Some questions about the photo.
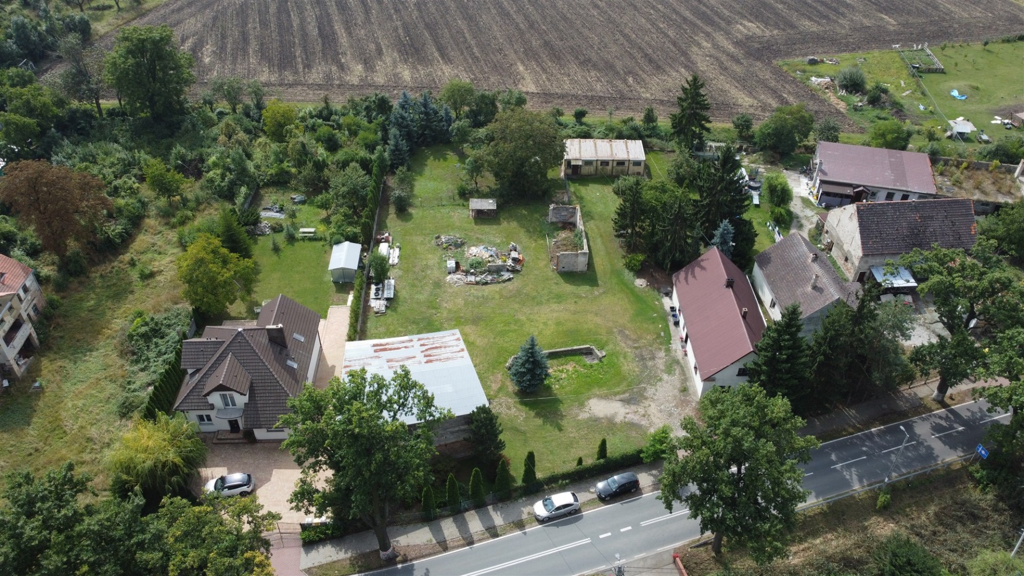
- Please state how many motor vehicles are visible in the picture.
3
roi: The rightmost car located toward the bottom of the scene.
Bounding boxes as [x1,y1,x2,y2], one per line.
[593,468,640,500]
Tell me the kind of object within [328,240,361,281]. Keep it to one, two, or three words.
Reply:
shed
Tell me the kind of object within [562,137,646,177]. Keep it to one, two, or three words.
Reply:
shed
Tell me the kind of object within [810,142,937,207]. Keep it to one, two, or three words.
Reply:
house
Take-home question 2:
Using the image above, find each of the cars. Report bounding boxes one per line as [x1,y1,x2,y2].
[593,468,640,500]
[532,488,581,520]
[204,470,256,497]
